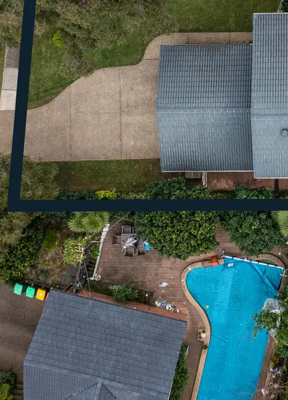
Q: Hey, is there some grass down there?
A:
Yes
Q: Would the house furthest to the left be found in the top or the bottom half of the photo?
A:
bottom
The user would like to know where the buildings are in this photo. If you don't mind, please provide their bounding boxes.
[156,13,288,178]
[22,283,189,400]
